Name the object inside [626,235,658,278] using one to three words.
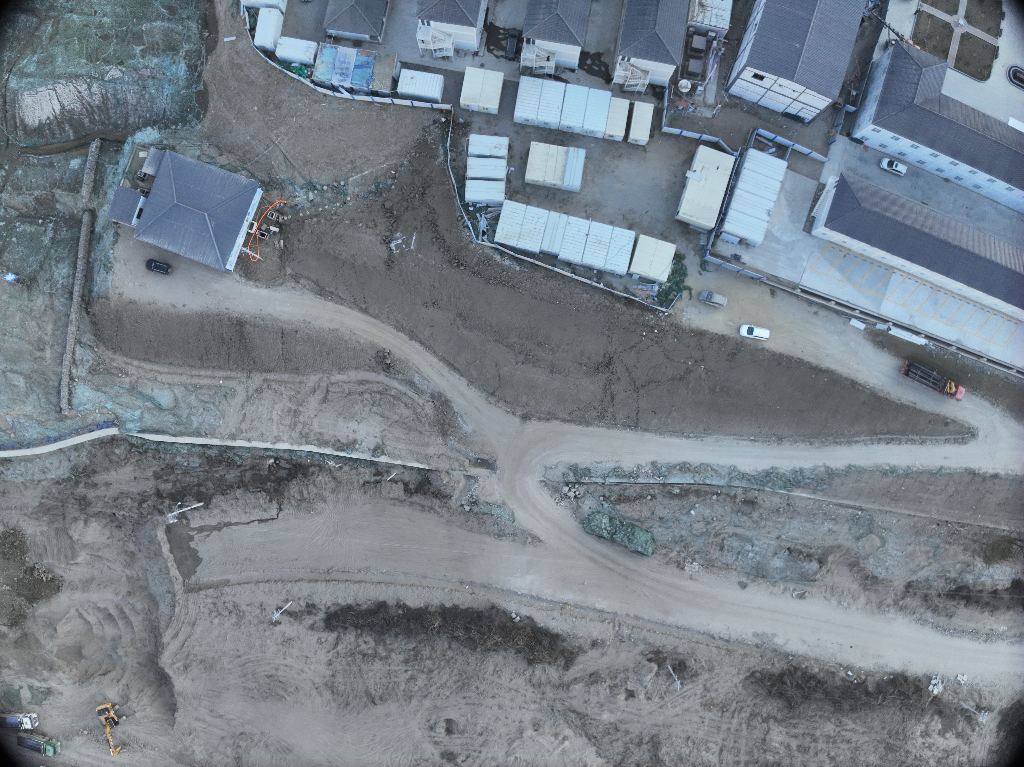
building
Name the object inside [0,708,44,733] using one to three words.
truck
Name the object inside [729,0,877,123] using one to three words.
warehouse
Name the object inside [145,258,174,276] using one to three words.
car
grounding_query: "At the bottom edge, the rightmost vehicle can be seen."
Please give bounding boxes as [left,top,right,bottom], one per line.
[96,700,130,754]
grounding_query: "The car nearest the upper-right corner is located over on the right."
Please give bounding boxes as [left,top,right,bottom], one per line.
[877,158,908,178]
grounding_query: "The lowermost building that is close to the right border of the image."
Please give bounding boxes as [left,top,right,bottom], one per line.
[804,173,1024,321]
